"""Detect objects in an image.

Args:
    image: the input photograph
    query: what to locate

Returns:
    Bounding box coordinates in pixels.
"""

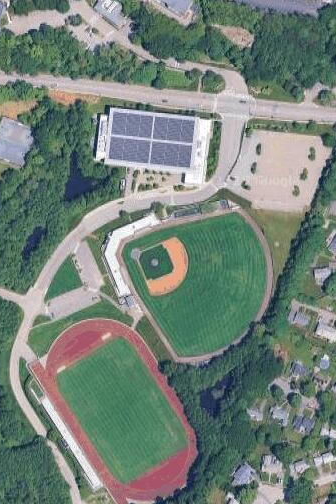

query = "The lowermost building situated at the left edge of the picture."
[0,117,34,167]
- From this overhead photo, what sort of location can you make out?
sports ground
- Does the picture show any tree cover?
Yes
